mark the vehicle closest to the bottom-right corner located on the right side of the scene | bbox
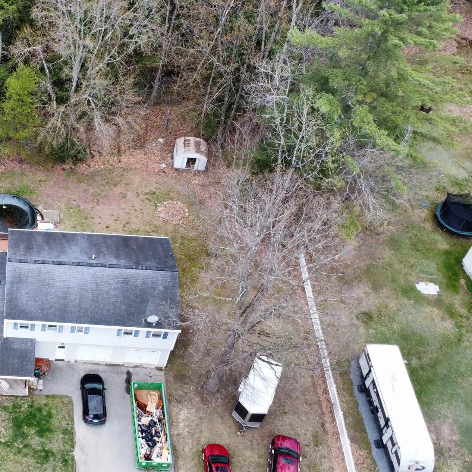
[350,344,437,472]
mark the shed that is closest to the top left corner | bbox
[171,130,210,170]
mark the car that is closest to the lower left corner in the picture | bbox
[78,372,110,429]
